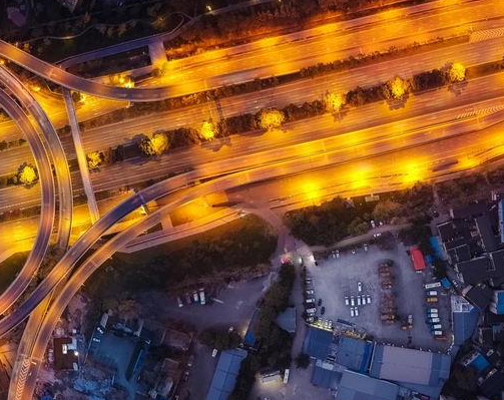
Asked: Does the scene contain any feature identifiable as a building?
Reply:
Yes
